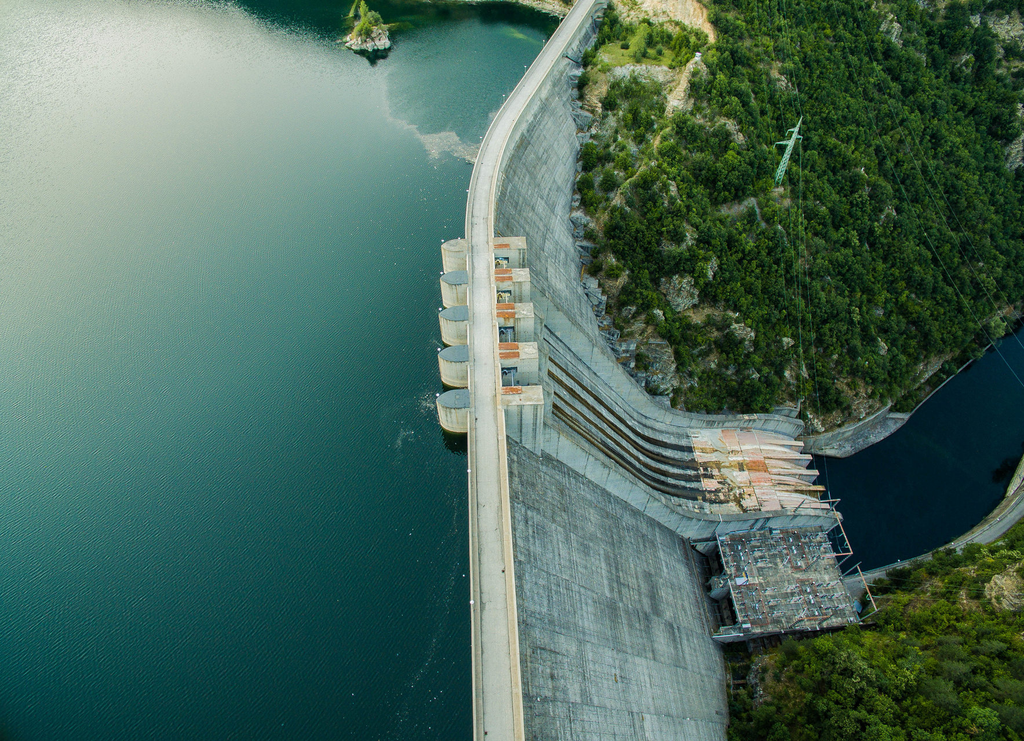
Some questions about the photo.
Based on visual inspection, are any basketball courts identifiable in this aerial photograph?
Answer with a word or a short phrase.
No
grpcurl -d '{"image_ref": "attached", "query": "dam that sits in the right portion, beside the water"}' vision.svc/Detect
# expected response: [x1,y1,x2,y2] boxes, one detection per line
[435,0,839,741]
